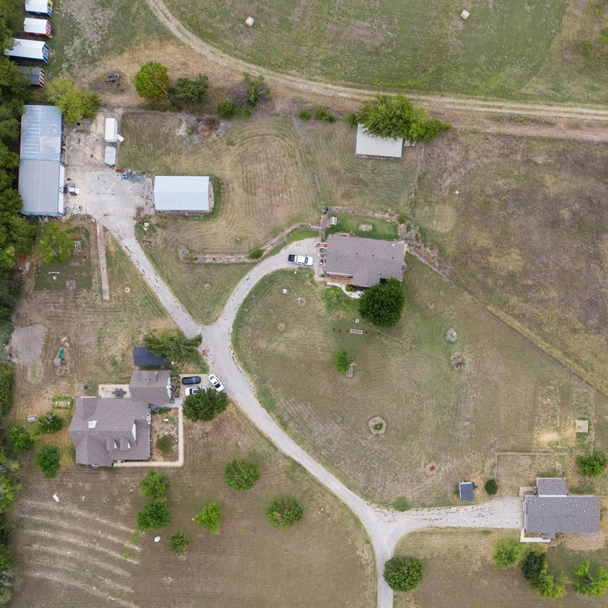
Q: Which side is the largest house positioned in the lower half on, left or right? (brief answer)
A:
left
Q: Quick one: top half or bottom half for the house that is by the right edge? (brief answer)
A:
bottom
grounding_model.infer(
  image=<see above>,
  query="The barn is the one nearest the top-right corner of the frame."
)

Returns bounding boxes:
[356,124,403,160]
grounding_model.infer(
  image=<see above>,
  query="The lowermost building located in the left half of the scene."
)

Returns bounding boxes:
[69,371,173,467]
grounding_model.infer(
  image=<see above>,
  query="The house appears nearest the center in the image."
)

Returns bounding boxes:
[320,232,406,287]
